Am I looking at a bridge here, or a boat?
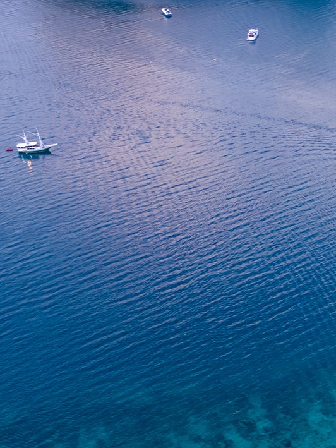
boat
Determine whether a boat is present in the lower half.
No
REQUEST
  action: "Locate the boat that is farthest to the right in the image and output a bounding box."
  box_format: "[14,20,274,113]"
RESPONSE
[244,25,259,41]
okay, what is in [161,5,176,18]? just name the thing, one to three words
boat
